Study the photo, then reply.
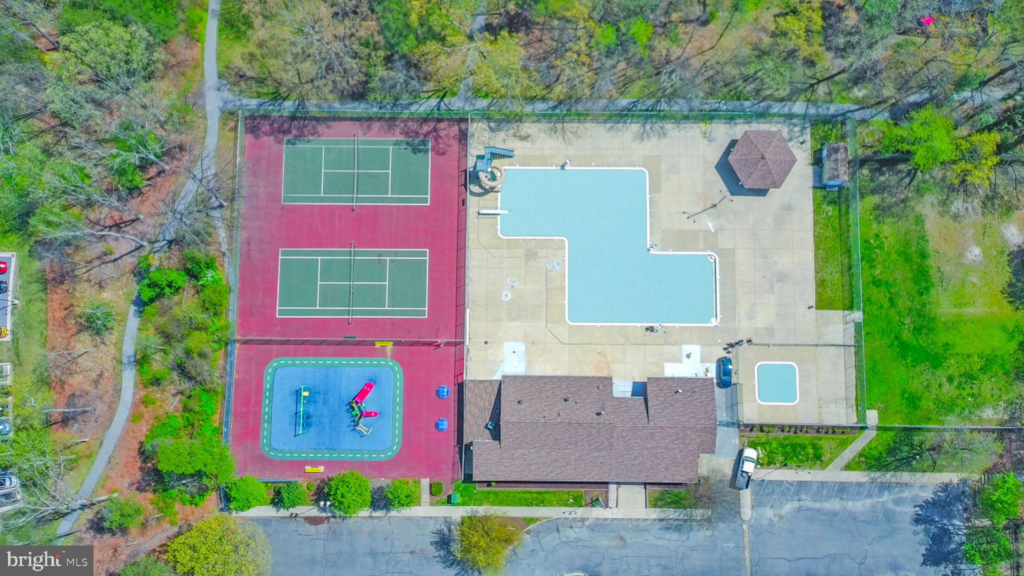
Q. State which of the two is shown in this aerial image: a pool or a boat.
pool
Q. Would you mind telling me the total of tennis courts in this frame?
two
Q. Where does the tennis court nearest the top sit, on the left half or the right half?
left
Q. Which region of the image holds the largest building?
bottom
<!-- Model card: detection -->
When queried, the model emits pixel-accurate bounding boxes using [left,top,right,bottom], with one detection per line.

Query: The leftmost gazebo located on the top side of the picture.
[728,130,797,188]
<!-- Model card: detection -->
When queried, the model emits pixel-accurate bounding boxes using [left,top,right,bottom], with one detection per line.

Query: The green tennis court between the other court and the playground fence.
[277,248,429,318]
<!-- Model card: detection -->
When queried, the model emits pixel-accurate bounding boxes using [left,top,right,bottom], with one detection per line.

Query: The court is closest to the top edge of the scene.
[282,138,431,205]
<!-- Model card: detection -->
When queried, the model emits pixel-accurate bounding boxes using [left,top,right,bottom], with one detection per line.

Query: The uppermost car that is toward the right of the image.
[716,356,732,389]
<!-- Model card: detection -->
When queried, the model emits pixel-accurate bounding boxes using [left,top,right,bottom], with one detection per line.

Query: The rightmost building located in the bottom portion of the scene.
[463,375,717,484]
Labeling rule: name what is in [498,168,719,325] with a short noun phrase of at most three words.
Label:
swimming pool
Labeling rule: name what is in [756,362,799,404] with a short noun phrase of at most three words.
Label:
swimming pool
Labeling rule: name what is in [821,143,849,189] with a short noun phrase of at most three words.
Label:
shed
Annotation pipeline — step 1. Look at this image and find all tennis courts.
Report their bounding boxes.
[282,138,431,205]
[277,248,429,318]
